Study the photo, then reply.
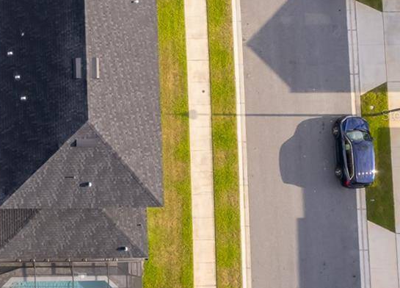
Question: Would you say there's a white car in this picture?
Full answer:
No, the picture doesn't show any white car.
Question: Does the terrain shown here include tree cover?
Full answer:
No, the scene doesn't show any tree cover.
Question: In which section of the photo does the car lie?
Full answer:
The car appears toward the right of the photo.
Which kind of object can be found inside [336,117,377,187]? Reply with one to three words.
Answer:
car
